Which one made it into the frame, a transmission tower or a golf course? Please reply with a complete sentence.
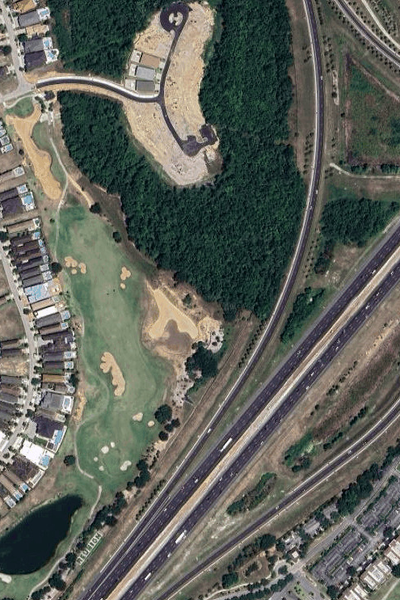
The one in the frame is a golf course.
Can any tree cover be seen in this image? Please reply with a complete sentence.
Yes, tree cover shows up in the scene.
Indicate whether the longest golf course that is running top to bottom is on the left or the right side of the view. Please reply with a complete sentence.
It is on the left.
